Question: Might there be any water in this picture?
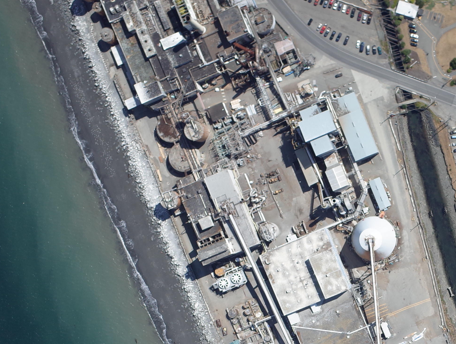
Yes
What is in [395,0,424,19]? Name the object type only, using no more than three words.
building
